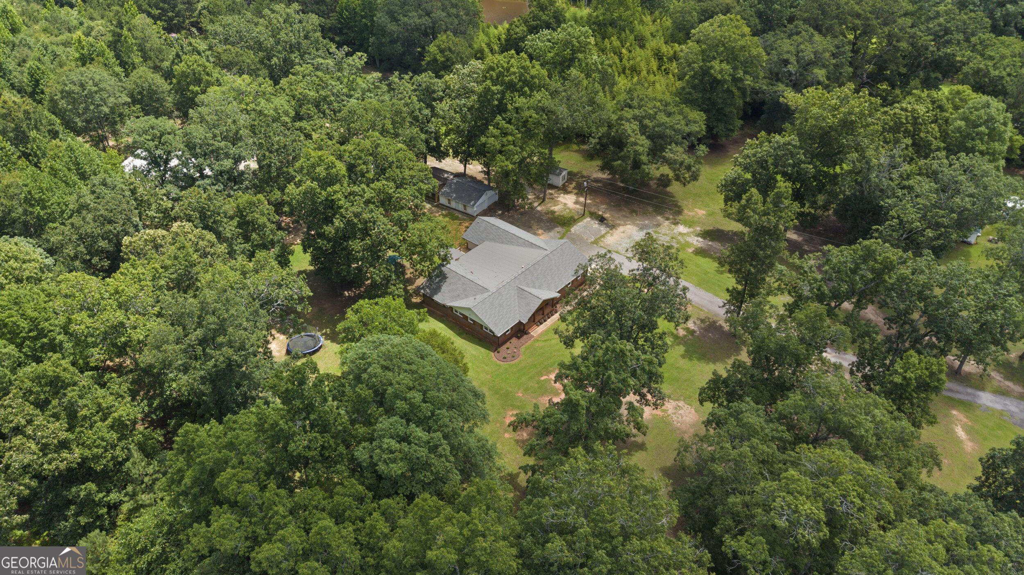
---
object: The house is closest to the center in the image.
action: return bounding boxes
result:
[422,217,592,347]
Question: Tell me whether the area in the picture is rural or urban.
rural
